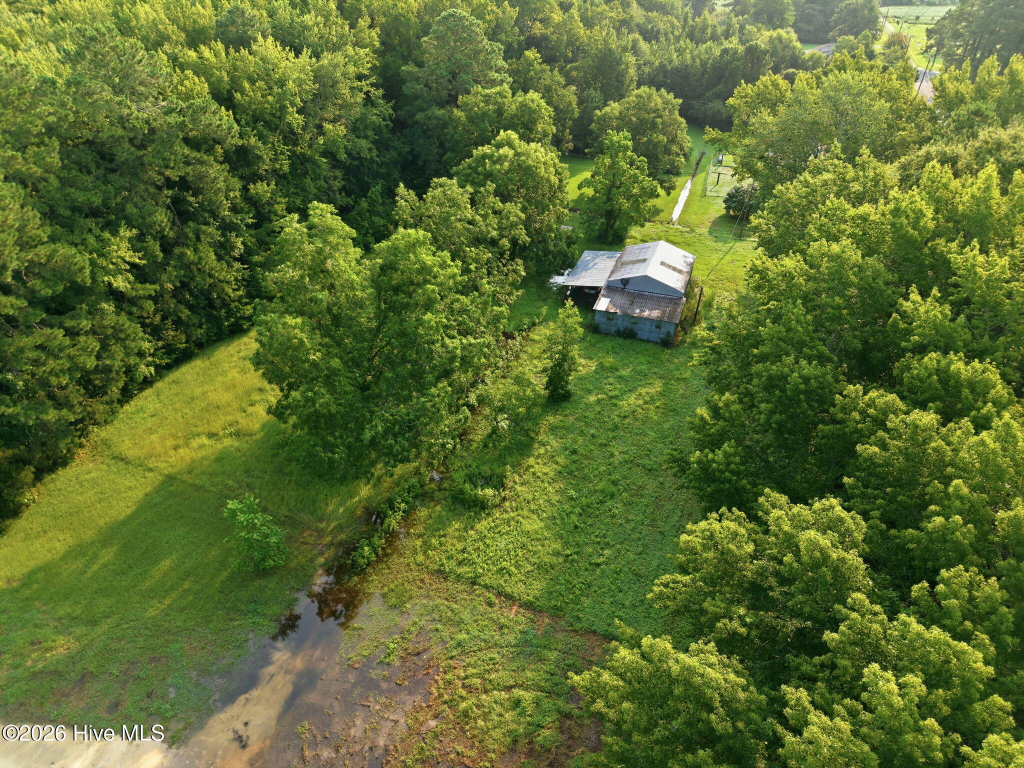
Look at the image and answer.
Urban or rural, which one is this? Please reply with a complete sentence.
It looks rural.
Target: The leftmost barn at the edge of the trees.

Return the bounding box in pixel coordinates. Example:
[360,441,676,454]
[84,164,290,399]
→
[563,240,696,341]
